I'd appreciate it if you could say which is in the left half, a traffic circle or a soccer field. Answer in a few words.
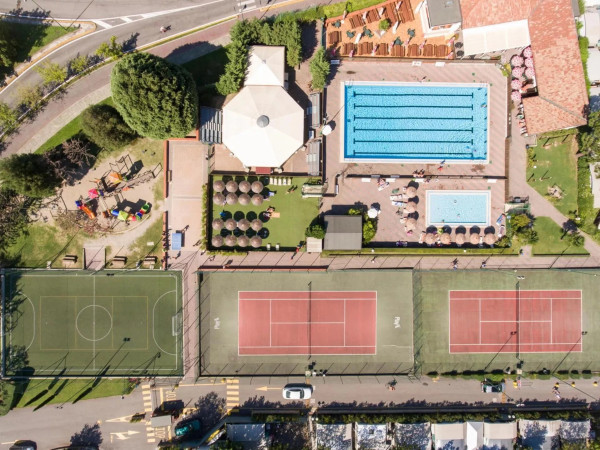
soccer field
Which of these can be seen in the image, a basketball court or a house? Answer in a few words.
house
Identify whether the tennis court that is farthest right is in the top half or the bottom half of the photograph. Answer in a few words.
bottom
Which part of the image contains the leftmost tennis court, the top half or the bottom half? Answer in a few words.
bottom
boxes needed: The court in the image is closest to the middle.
[201,271,414,376]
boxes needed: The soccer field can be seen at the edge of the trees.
[2,270,182,377]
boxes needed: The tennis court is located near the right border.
[414,270,600,374]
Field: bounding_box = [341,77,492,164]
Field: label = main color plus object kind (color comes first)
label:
blue swimming pool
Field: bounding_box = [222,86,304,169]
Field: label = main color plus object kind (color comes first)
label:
white tent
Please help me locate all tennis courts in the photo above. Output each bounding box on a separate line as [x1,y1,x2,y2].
[414,270,600,374]
[201,271,414,376]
